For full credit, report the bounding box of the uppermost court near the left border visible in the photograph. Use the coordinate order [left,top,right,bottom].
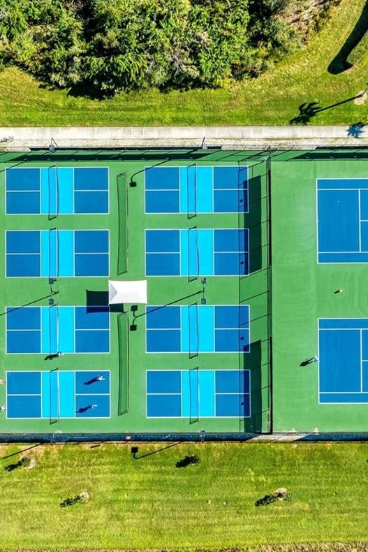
[5,167,109,214]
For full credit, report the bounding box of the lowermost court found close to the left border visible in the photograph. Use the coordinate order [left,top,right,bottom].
[7,372,110,419]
